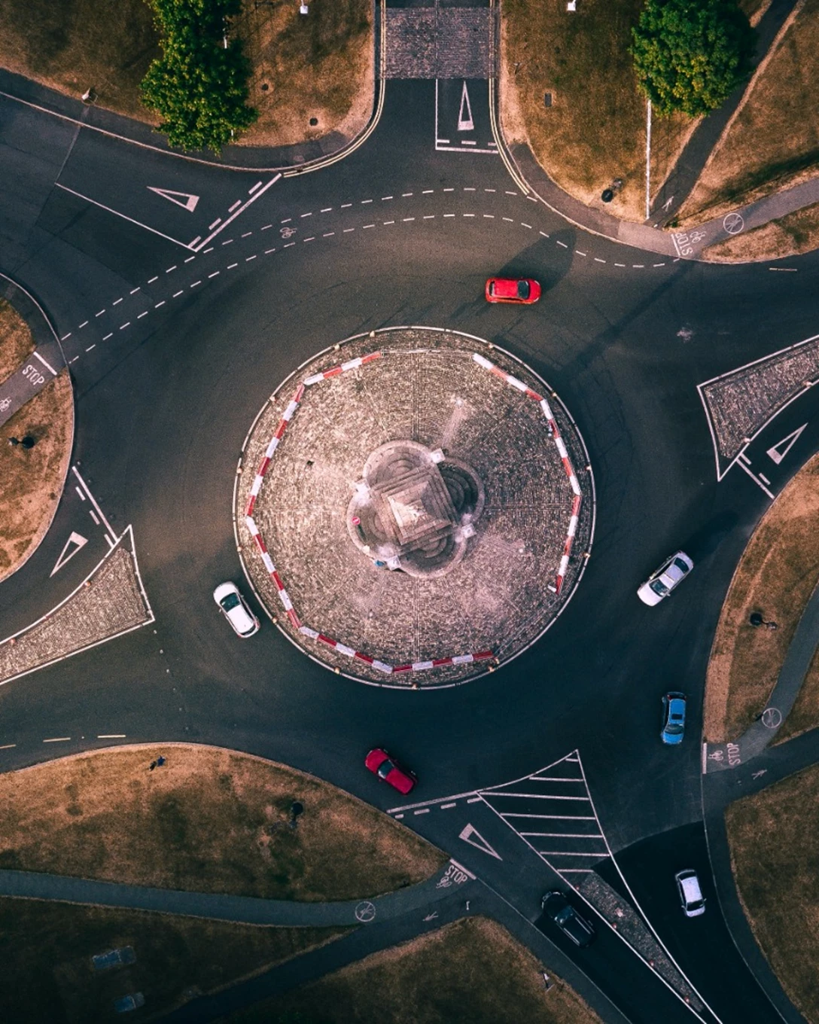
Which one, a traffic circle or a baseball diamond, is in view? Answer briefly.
traffic circle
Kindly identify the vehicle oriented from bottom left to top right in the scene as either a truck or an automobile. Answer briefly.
automobile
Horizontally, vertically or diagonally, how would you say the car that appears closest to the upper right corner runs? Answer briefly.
horizontally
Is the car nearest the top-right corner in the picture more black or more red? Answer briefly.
red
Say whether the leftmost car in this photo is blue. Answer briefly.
No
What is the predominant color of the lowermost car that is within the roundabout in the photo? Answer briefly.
red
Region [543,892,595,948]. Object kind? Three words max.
car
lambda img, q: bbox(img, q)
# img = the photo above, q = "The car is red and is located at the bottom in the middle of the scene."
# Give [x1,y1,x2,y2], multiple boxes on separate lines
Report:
[366,749,417,796]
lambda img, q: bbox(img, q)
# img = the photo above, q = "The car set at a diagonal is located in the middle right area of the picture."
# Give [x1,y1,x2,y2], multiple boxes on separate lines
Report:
[641,552,693,603]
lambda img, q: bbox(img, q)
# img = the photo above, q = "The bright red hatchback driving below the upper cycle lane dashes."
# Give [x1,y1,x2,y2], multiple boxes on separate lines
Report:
[486,277,540,304]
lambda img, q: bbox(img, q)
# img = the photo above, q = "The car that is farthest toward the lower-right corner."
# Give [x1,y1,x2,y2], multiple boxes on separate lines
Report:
[675,867,706,914]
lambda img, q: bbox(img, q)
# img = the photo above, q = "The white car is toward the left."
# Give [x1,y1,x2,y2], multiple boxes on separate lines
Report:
[217,583,258,637]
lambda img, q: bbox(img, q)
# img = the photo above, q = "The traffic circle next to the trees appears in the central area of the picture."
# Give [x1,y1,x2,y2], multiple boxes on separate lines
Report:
[62,189,725,818]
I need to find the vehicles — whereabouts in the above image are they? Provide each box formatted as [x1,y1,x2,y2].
[641,552,693,603]
[366,749,417,796]
[217,583,258,637]
[675,867,706,914]
[543,892,595,948]
[661,692,687,743]
[486,277,540,304]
